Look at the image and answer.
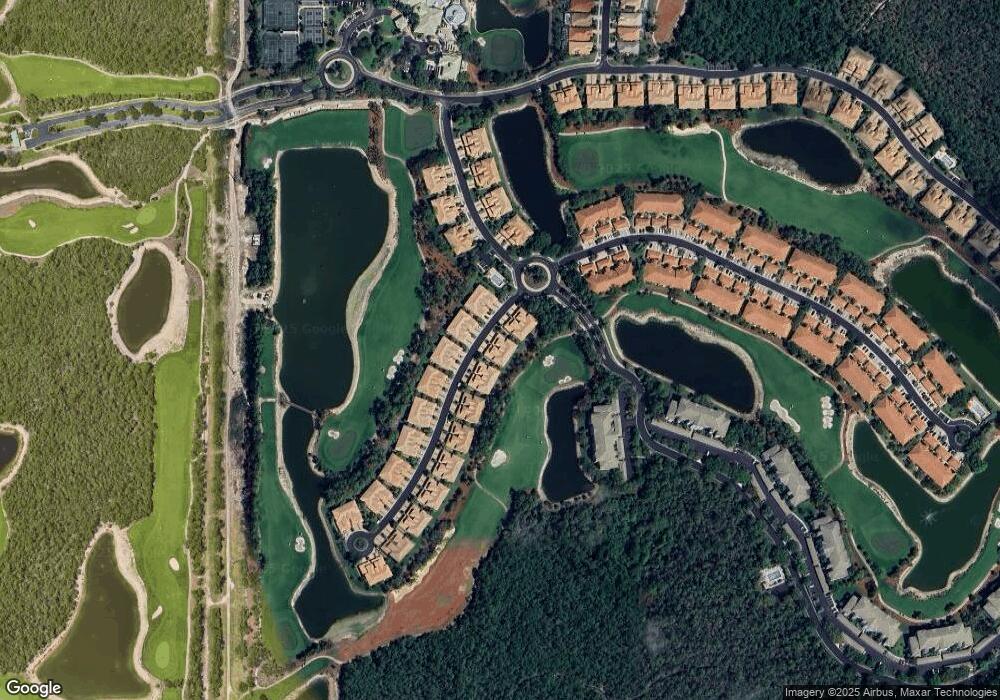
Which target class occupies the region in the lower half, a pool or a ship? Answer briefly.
pool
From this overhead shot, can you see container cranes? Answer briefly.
No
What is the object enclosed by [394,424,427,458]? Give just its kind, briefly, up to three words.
house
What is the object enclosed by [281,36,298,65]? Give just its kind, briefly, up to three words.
tennis court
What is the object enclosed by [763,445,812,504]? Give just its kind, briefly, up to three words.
building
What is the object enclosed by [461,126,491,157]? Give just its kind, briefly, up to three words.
house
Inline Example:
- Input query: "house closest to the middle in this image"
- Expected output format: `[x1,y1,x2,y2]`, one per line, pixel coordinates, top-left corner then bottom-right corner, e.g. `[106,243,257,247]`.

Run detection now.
[483,332,519,367]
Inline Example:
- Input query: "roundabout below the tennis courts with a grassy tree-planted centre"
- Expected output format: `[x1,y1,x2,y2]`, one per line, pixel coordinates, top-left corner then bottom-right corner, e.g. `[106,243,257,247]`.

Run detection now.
[317,51,362,96]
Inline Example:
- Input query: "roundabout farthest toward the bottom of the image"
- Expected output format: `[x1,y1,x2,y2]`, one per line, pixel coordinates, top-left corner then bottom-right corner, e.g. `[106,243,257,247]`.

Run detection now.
[514,255,559,300]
